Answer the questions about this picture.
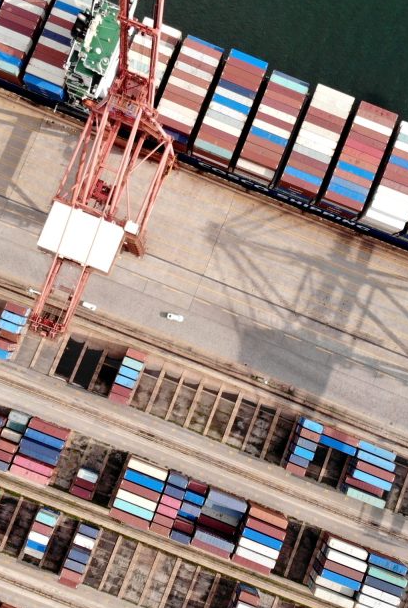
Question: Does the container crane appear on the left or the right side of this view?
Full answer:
It is on the left.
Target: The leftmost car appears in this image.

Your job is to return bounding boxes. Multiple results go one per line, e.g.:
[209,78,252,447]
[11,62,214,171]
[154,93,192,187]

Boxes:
[81,301,97,313]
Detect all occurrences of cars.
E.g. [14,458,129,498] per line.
[81,301,97,313]
[167,312,184,323]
